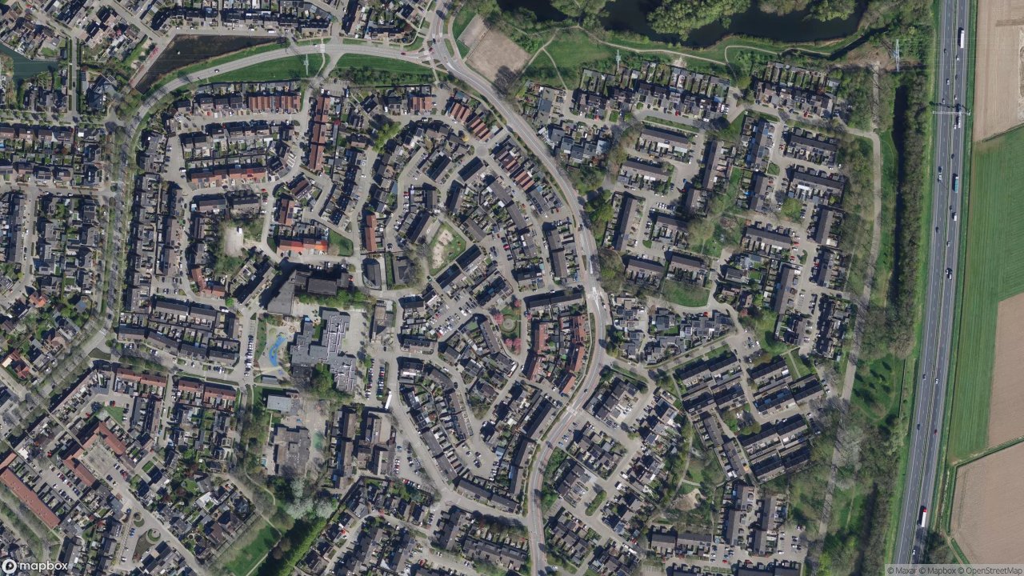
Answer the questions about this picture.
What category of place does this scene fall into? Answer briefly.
residential area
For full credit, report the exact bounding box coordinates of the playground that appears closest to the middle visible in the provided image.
[431,228,458,271]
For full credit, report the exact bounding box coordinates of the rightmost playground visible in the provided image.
[671,488,705,510]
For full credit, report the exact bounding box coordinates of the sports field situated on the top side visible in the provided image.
[468,30,531,82]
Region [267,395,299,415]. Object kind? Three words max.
building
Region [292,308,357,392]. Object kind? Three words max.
building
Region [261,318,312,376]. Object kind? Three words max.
playground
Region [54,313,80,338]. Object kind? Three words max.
house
